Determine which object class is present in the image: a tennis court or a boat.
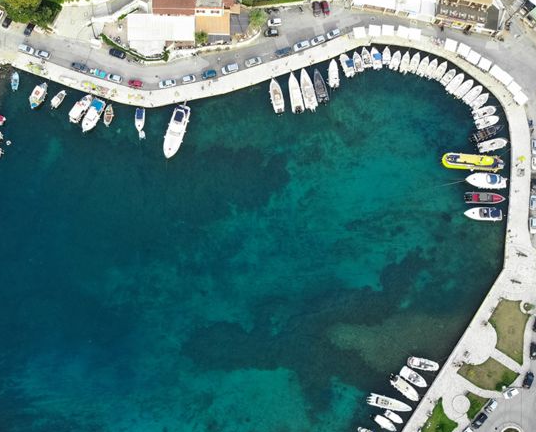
boat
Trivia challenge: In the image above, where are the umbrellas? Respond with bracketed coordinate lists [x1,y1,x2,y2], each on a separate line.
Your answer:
[409,27,421,40]
[466,50,481,64]
[456,43,470,57]
[369,23,381,36]
[506,80,521,95]
[513,90,529,105]
[382,23,394,35]
[352,26,365,38]
[488,63,514,87]
[477,57,491,71]
[396,24,409,37]
[444,37,457,51]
